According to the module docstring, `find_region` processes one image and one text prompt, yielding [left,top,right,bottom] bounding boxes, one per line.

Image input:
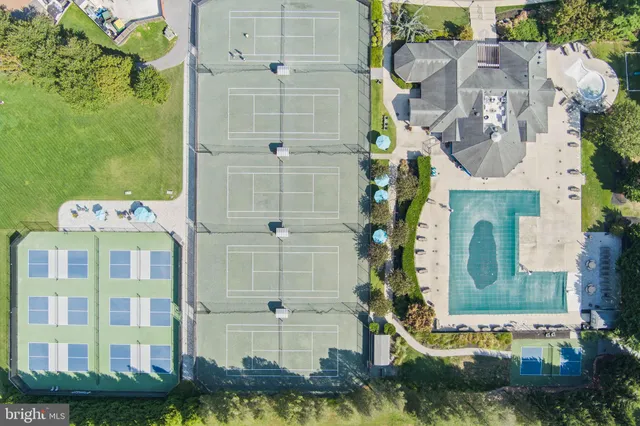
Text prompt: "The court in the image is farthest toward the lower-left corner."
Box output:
[17,334,98,391]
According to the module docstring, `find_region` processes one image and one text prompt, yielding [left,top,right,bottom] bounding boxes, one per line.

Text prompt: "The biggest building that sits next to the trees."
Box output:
[394,41,555,179]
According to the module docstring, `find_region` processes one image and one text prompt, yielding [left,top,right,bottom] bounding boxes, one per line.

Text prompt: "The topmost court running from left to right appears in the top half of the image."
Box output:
[198,0,371,73]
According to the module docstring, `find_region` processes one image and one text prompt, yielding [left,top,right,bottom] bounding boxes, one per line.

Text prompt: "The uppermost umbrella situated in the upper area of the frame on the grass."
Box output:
[376,136,390,150]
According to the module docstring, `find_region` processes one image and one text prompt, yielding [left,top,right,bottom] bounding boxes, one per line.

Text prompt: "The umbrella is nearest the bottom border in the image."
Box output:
[372,229,386,243]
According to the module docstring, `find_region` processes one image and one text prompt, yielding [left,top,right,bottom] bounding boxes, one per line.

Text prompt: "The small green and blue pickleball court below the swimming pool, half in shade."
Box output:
[510,340,598,387]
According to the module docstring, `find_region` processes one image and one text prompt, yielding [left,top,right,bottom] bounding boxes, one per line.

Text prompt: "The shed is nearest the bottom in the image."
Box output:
[375,334,391,366]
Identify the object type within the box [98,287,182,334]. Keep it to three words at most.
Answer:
sports court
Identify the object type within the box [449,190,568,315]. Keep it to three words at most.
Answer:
swimming pool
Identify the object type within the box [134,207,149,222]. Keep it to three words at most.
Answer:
umbrella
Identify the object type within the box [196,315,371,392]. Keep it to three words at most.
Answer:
tennis court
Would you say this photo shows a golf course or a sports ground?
sports ground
